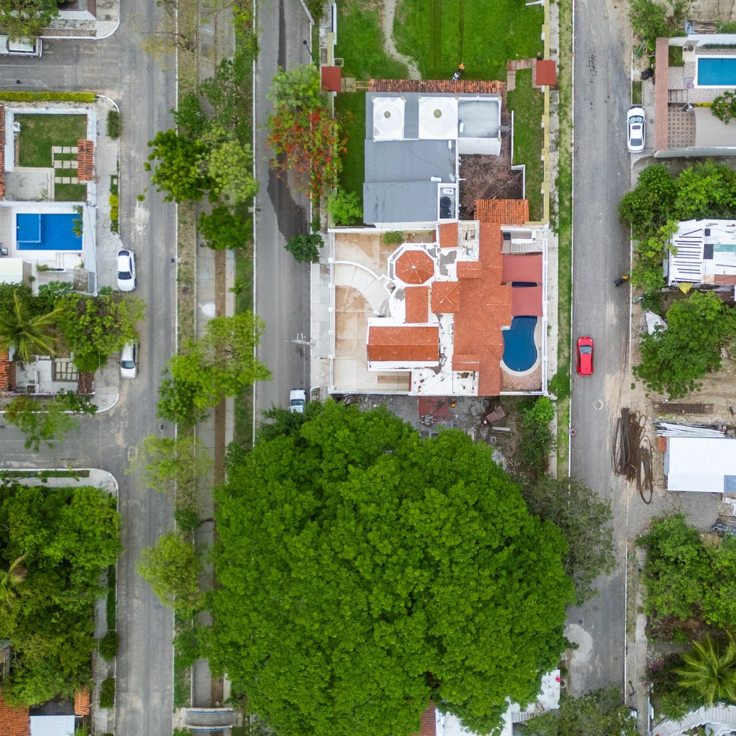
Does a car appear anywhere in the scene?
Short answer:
Yes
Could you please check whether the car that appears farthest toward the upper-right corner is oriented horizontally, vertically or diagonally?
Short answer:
vertically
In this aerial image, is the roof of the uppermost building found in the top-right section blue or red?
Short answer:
red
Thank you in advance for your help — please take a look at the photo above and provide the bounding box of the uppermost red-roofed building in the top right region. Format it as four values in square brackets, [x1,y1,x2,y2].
[536,60,556,86]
